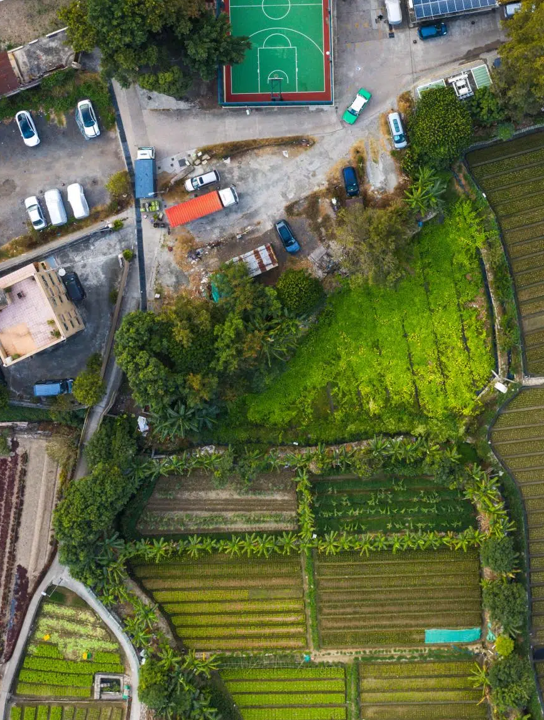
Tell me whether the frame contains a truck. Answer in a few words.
Yes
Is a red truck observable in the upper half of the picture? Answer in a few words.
Yes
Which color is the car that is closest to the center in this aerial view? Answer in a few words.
blue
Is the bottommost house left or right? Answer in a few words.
left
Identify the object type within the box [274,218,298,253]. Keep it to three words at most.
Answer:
car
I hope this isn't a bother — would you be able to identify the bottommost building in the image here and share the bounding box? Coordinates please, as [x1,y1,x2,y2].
[0,263,85,367]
